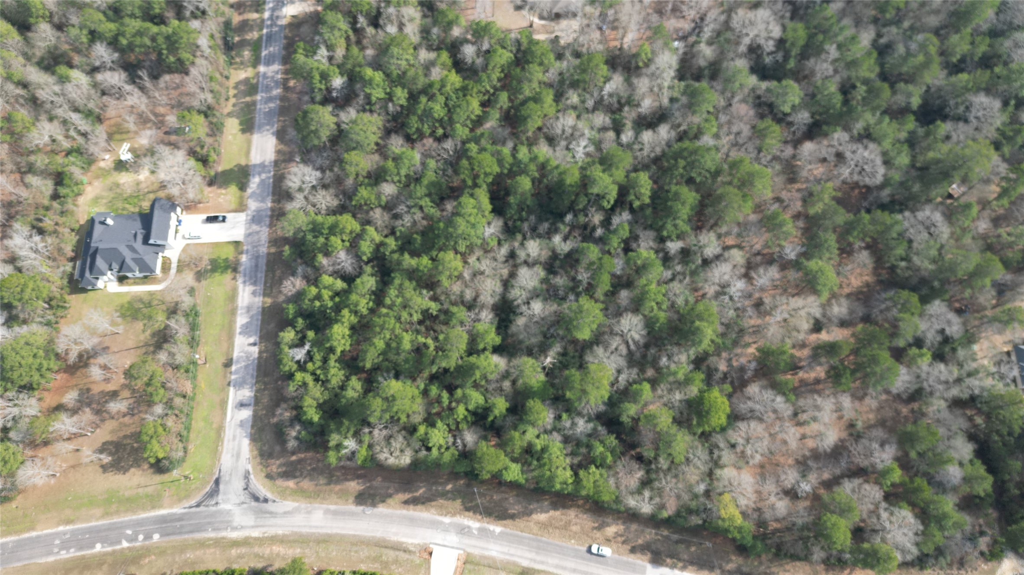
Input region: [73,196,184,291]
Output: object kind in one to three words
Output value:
house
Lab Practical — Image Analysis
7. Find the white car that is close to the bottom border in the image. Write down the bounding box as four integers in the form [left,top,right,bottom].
[591,545,612,558]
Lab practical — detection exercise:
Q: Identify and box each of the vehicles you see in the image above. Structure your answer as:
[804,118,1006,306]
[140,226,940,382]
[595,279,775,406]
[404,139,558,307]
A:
[591,545,612,558]
[205,215,227,224]
[184,231,202,240]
